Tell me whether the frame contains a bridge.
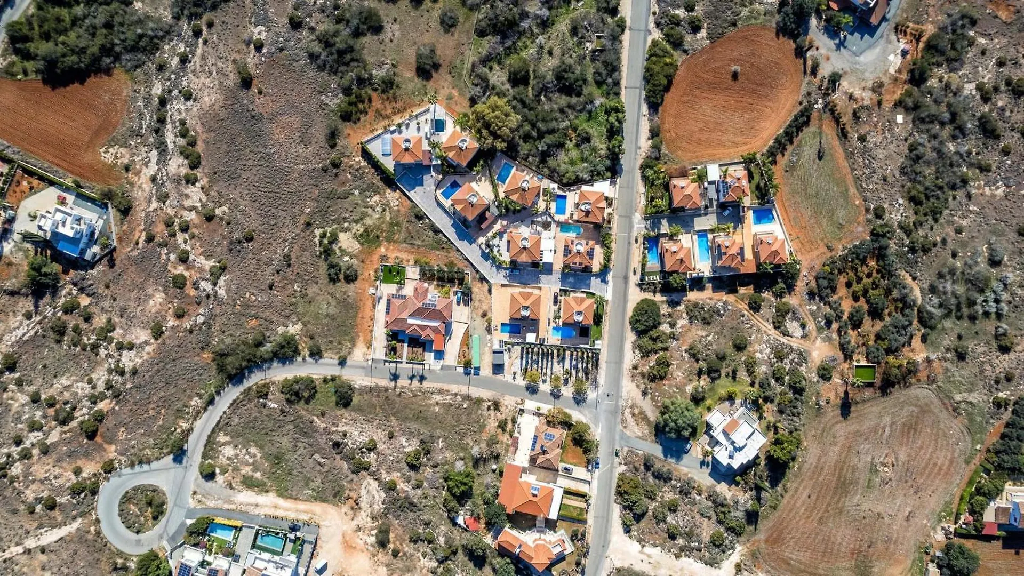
No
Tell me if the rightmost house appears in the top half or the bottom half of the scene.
bottom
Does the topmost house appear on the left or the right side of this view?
right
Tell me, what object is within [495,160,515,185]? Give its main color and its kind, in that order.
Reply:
blue swimming pool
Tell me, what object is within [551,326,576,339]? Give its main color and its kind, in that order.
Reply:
blue swimming pool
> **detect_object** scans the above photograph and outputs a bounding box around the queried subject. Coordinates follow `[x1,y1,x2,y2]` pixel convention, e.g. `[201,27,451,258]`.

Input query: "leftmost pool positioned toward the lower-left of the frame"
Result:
[206,524,236,542]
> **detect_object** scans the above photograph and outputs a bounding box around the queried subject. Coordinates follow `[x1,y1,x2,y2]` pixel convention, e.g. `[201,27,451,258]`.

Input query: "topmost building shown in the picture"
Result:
[827,0,890,29]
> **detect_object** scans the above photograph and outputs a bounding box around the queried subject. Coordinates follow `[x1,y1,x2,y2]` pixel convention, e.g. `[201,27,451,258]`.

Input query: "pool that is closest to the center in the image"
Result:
[500,323,521,335]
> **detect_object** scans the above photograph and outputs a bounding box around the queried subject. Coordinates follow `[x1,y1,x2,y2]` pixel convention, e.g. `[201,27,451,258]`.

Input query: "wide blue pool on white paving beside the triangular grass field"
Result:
[751,207,777,226]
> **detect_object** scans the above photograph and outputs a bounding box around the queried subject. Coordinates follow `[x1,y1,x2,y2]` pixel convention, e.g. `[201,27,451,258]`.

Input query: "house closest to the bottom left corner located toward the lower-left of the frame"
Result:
[174,541,211,576]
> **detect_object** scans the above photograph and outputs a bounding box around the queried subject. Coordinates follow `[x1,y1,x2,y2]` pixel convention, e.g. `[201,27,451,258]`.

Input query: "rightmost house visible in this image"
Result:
[978,488,1024,535]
